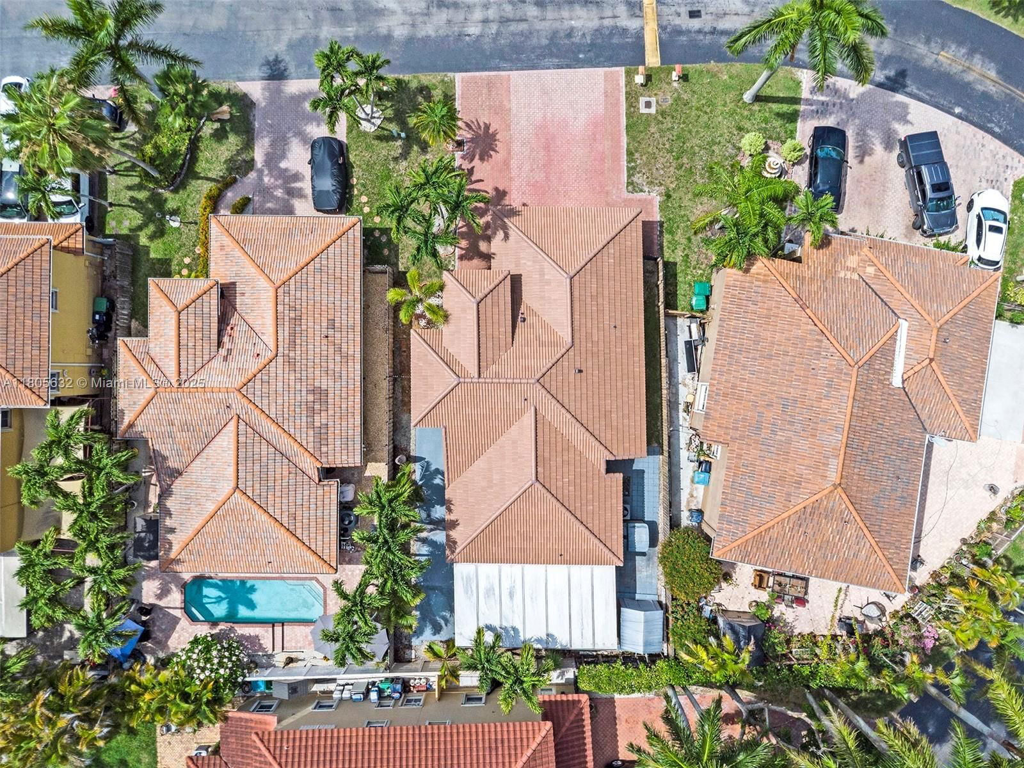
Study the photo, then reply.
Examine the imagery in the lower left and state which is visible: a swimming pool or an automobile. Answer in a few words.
swimming pool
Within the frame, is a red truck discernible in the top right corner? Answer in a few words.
No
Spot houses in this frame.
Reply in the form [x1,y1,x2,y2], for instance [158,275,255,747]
[689,232,1004,595]
[0,220,108,557]
[114,213,364,575]
[409,204,647,568]
[183,683,594,768]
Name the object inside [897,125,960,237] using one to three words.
truck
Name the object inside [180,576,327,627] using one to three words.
swimming pool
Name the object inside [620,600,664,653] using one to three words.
shed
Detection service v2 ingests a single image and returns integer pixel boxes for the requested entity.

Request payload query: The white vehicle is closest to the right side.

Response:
[966,191,1014,269]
